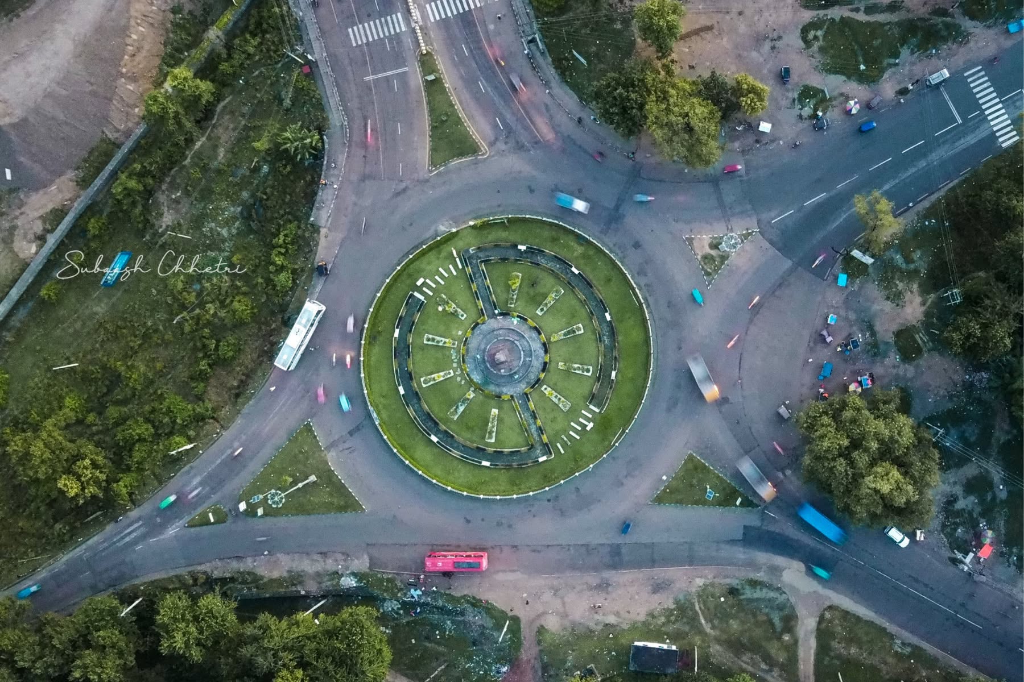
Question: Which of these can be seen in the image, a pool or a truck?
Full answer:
The image shows a truck.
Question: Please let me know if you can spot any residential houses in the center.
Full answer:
No, there's no residential house to be seen in the center.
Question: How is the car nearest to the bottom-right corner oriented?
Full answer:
The car nearest to the bottom-right corner has been laid out at an angle relative to the frame.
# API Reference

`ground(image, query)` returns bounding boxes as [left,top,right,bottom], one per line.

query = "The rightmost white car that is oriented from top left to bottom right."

[881,525,908,548]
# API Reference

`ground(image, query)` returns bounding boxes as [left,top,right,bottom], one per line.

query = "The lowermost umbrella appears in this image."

[978,529,995,544]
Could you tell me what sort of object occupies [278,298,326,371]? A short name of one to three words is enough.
bus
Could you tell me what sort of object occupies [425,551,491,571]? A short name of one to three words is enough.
bus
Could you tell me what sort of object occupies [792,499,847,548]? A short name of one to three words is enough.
truck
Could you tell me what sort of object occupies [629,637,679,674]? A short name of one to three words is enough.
house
